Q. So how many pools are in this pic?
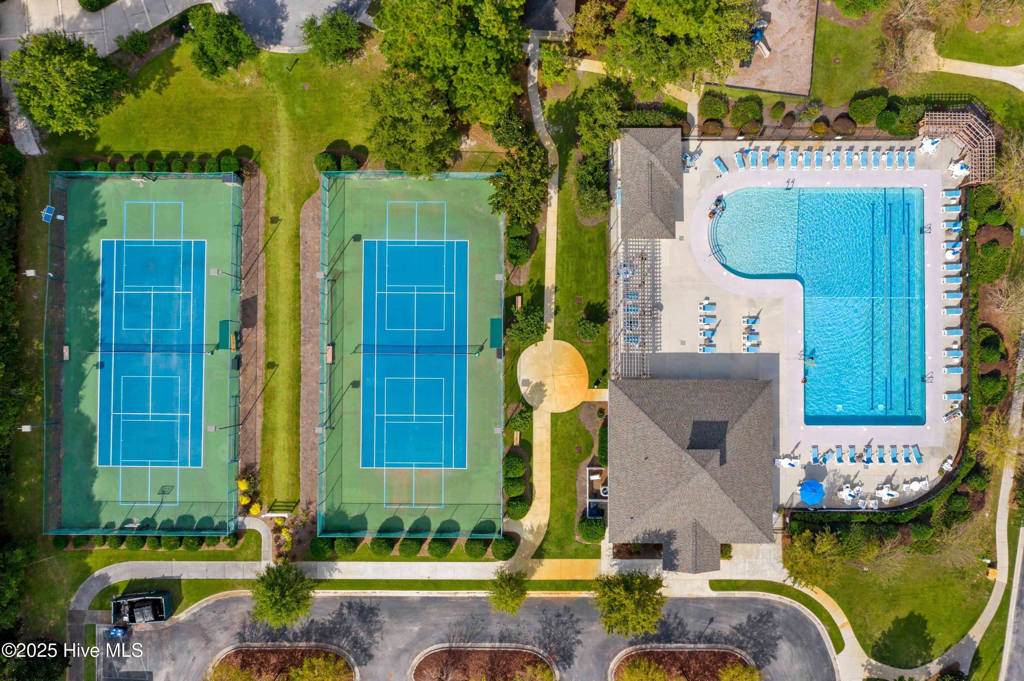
1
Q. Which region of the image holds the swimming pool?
right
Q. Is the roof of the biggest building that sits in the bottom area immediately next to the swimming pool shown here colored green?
No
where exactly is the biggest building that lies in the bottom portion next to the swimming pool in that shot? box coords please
[607,379,774,576]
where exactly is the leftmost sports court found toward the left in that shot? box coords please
[61,178,242,529]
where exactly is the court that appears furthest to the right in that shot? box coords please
[324,179,504,531]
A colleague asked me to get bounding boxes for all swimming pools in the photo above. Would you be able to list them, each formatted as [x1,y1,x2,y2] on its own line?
[708,181,932,431]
